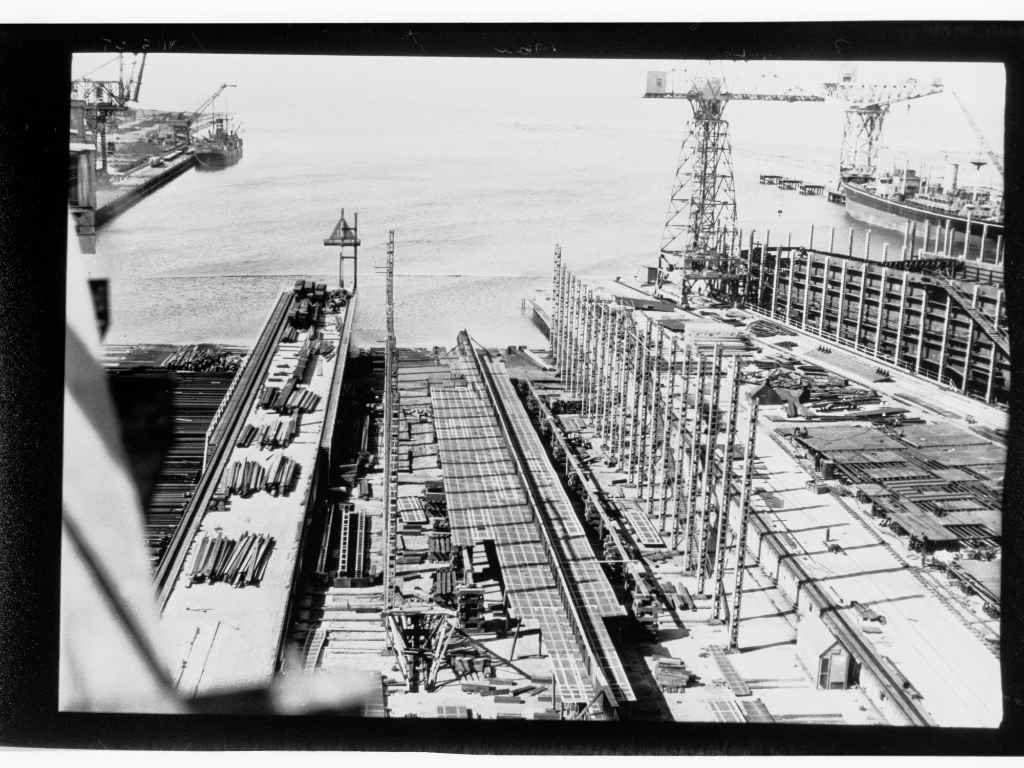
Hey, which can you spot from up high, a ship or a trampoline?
ship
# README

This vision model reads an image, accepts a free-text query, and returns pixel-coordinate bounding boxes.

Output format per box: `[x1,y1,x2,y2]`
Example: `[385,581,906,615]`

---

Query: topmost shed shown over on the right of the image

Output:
[641,260,662,283]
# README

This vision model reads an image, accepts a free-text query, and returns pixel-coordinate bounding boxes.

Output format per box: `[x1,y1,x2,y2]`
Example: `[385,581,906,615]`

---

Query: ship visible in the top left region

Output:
[194,107,236,167]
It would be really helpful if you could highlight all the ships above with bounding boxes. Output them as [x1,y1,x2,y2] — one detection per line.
[194,107,236,167]
[846,153,1024,253]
